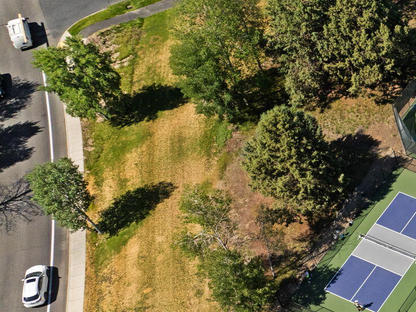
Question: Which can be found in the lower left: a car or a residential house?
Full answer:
The one visible in the lower left is a car.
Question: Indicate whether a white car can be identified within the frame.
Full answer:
Yes, a white car is visible in the scene.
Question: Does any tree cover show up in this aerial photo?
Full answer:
Yes, tree cover can be seen from above here.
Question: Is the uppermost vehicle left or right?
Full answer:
The uppermost vehicle is on the left side of the image.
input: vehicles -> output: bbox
[7,18,33,48]
[19,264,48,307]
